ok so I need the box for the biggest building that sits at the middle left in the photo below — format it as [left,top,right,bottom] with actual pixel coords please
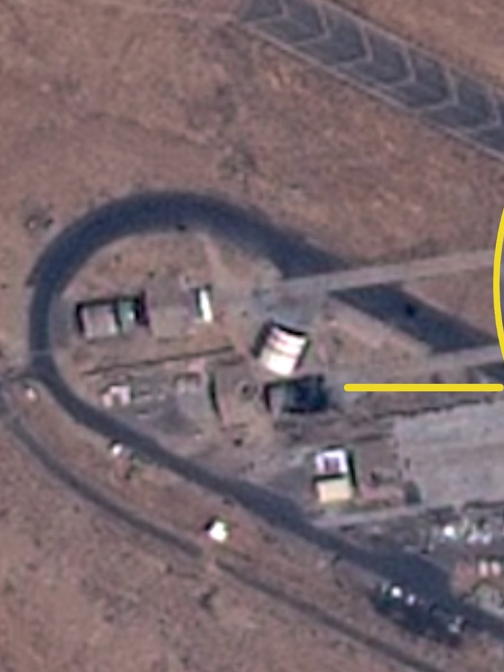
[83,302,118,338]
